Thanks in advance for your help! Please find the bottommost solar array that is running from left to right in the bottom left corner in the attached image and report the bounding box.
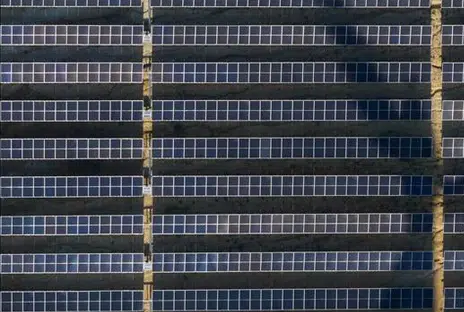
[0,290,144,312]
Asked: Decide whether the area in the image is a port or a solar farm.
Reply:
solar farm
